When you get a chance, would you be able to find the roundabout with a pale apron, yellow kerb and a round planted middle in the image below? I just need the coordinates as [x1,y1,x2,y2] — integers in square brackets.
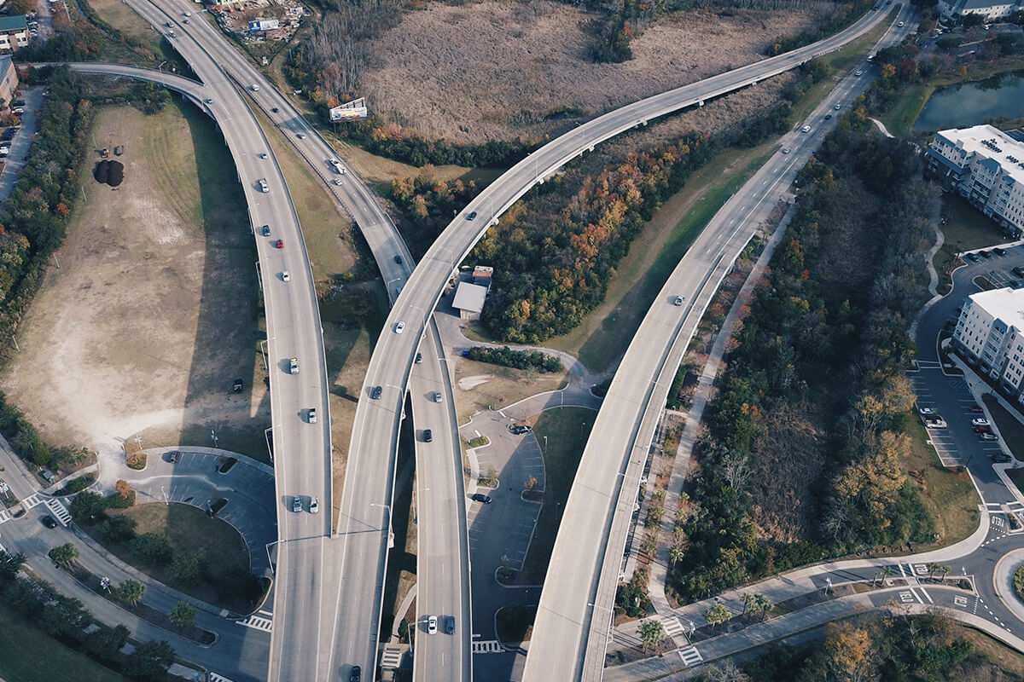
[993,548,1024,622]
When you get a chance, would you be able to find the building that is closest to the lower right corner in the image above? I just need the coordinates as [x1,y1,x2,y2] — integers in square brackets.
[946,286,1024,420]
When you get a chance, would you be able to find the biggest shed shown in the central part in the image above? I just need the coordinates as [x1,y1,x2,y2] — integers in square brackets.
[453,283,487,323]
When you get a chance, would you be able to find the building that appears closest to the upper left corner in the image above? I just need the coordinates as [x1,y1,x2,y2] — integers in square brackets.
[0,12,34,48]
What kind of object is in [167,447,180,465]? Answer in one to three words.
vehicle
